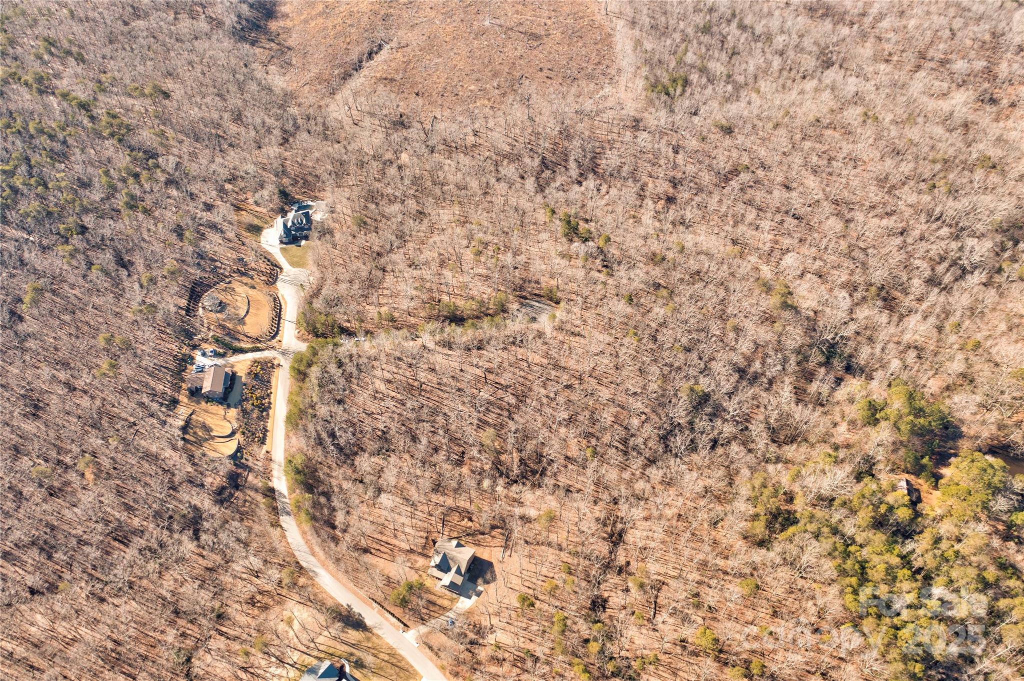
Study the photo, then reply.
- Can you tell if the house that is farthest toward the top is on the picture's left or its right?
left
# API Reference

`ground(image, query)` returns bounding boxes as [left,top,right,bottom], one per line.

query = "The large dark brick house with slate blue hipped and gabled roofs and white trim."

[276,208,313,244]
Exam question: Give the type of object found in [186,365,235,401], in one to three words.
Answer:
house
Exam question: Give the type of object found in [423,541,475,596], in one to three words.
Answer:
house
